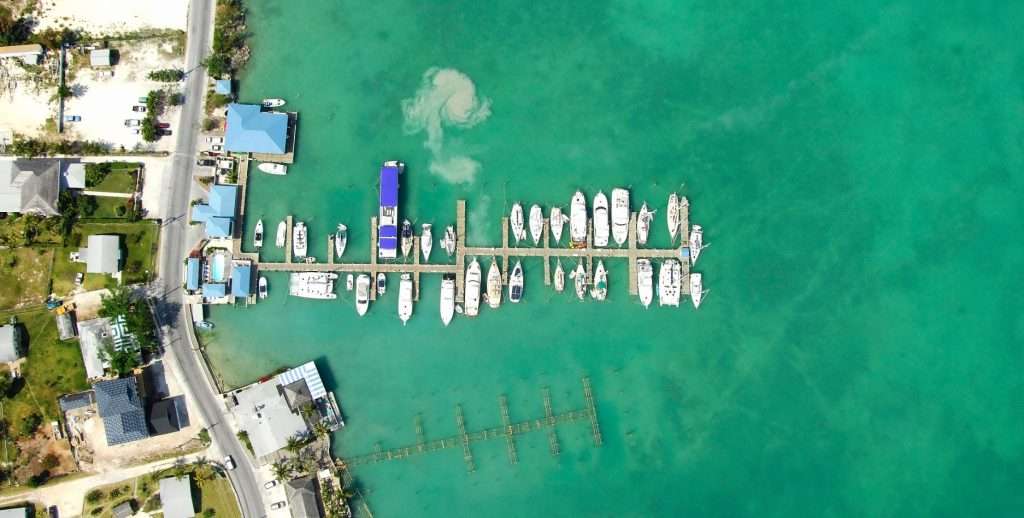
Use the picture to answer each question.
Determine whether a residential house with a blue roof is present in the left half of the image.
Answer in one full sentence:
Yes, a residential house with a blue roof appears in the left half of the image.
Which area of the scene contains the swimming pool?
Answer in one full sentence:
Look in the left portion of the view to spot the swimming pool.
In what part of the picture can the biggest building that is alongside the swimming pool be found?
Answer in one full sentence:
The biggest building that is alongside the swimming pool is in the left part of the image.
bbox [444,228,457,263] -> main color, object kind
white boat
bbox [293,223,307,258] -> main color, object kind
white boat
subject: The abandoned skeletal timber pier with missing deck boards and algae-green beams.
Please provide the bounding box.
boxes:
[338,376,603,473]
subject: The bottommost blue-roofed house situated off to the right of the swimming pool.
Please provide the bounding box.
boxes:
[232,266,252,296]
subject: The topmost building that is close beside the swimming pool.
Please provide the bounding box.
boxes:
[192,185,240,237]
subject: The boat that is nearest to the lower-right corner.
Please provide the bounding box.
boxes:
[689,267,707,308]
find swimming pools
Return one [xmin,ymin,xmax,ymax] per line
[207,251,228,284]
